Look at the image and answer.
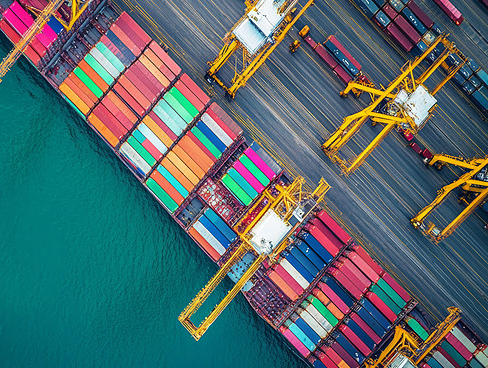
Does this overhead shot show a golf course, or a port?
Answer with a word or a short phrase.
port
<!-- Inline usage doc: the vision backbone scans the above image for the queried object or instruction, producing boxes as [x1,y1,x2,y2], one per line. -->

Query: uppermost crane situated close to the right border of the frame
[322,30,474,175]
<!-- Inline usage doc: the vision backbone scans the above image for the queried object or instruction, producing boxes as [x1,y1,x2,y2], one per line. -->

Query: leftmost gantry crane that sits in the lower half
[176,174,333,342]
